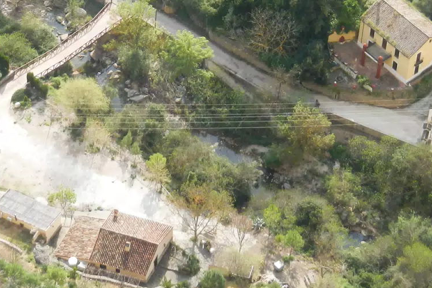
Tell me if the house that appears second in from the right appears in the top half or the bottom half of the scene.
bottom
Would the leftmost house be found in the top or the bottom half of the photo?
bottom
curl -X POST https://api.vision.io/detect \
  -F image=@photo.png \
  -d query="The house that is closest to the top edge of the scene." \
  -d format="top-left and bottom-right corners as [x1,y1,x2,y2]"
[349,0,432,83]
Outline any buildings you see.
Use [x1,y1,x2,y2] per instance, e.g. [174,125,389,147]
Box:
[54,208,172,288]
[349,0,432,83]
[0,185,64,254]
